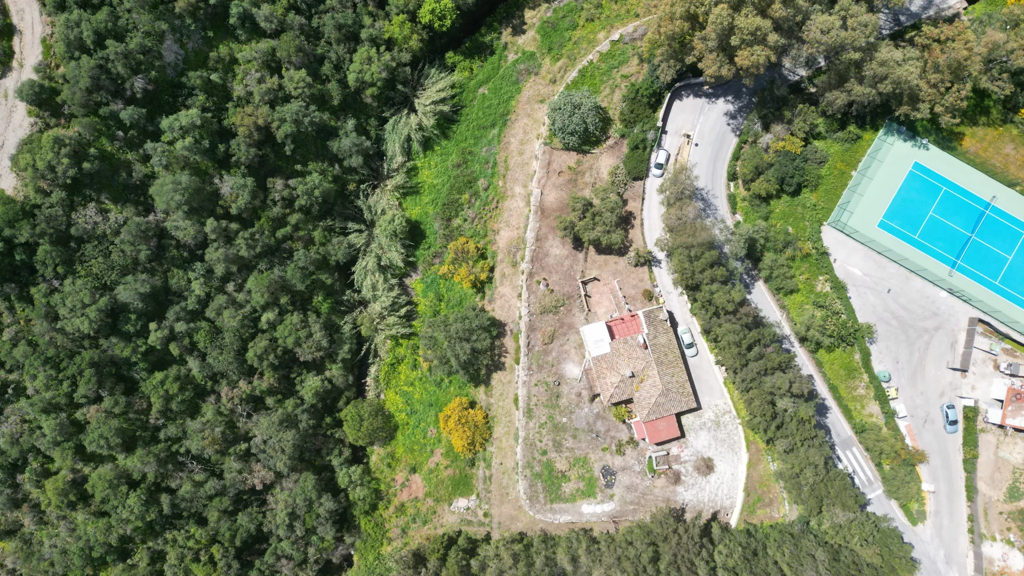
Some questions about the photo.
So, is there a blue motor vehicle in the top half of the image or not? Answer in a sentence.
No, I see no blue motor vehicle in the top half of the image.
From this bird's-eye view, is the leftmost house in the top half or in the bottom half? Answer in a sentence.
You can find the leftmost house in the bottom half.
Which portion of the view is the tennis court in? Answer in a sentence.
The tennis court sits in the right section of the image.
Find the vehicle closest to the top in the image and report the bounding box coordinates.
[651,148,669,177]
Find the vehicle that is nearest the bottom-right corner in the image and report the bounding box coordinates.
[938,402,959,434]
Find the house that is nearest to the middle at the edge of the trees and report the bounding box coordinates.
[577,304,698,450]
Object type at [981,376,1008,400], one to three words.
shed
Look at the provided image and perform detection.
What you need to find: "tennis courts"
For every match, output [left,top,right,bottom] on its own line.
[828,122,1024,333]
